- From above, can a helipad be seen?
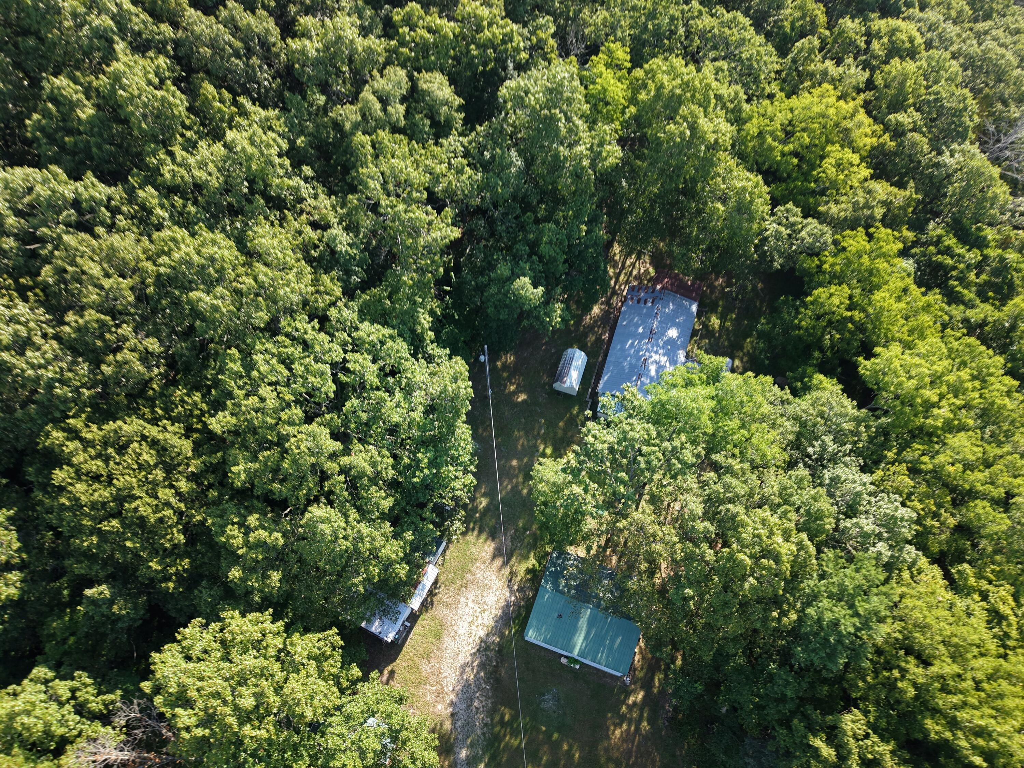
No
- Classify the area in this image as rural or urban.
rural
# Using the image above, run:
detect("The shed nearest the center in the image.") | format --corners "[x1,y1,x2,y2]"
[553,349,588,400]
